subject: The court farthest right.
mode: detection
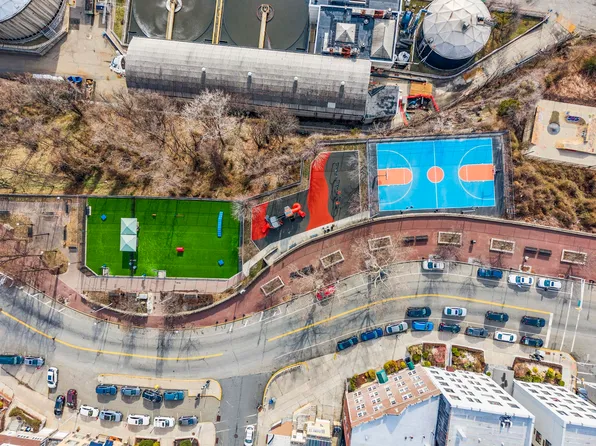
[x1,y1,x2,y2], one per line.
[368,133,506,218]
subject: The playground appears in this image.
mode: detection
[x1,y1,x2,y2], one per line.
[251,150,360,252]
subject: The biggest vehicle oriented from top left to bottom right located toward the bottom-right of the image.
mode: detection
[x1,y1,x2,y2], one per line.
[573,383,591,400]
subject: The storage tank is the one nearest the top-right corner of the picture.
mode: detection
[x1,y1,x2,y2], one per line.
[408,0,499,72]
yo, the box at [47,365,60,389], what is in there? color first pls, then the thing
white vehicle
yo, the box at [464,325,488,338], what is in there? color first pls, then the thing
blue vehicle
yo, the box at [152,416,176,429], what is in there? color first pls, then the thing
white vehicle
